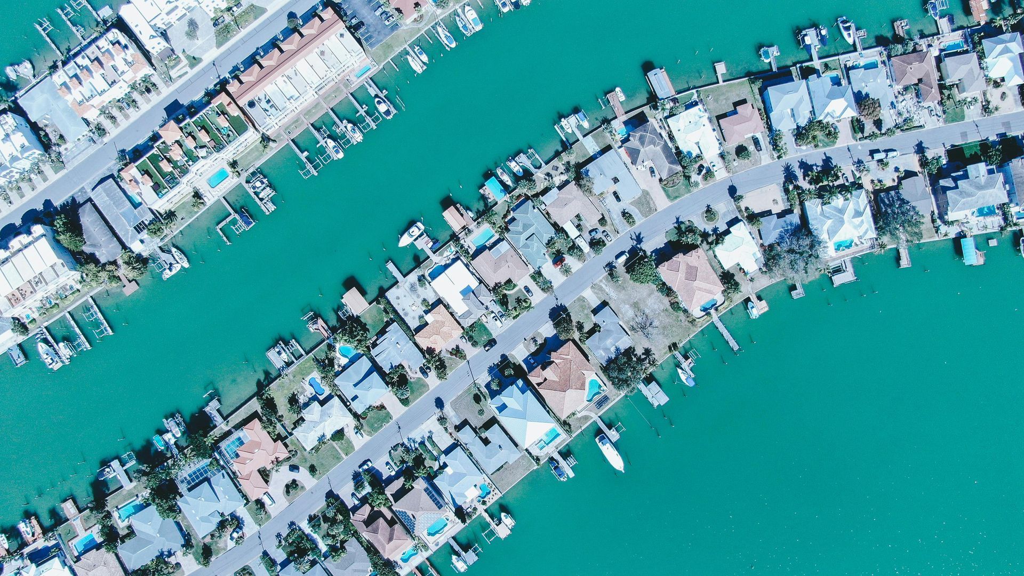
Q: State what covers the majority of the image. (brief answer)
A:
water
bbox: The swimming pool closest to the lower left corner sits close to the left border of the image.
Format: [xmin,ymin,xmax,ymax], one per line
[27,544,60,563]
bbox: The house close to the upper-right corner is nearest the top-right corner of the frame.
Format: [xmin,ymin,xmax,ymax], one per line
[980,32,1024,87]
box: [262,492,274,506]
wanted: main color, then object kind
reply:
white vehicle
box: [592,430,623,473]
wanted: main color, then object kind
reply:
white boat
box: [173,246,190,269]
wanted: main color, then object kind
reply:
white boat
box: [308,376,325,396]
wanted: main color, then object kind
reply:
blue swimming pool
